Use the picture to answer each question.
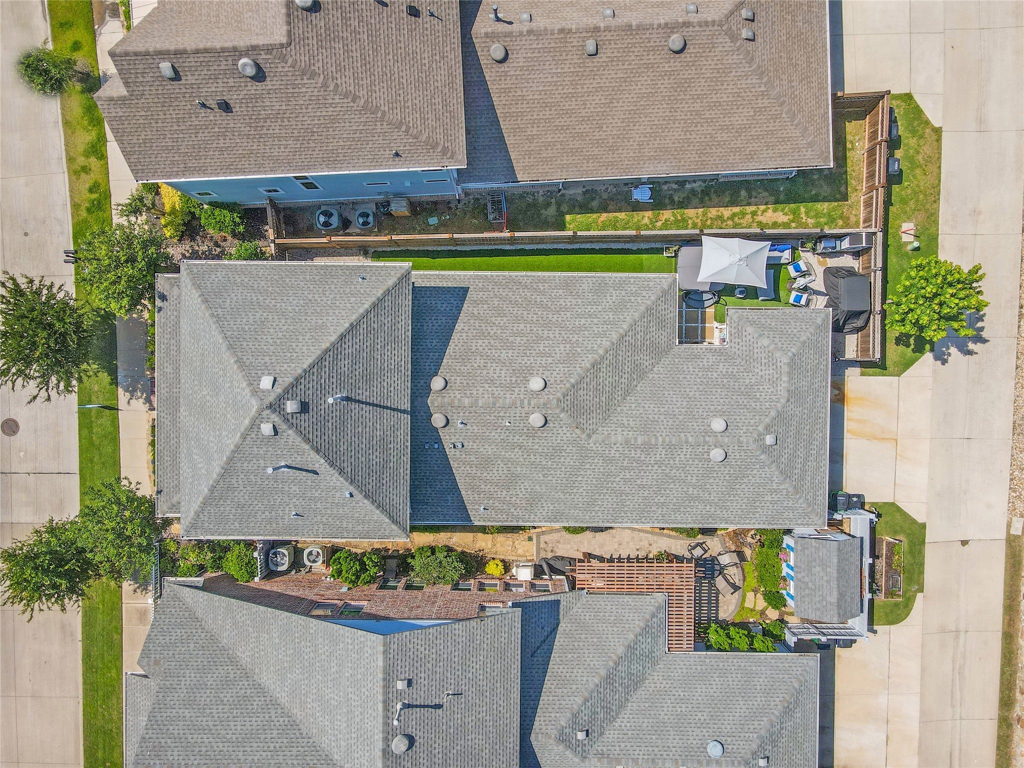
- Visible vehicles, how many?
zero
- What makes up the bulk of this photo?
buildings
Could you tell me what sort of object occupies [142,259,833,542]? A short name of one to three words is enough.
house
